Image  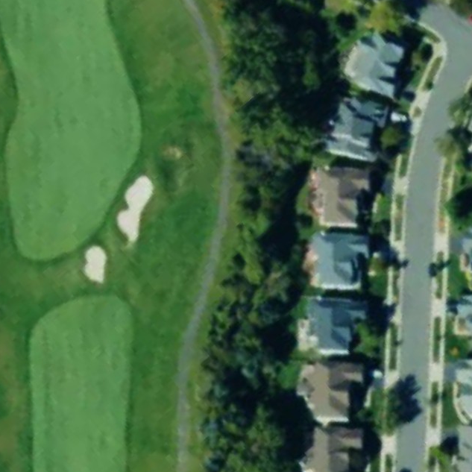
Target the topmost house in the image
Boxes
[340,35,408,100]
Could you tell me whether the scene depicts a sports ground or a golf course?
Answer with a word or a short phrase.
golf course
